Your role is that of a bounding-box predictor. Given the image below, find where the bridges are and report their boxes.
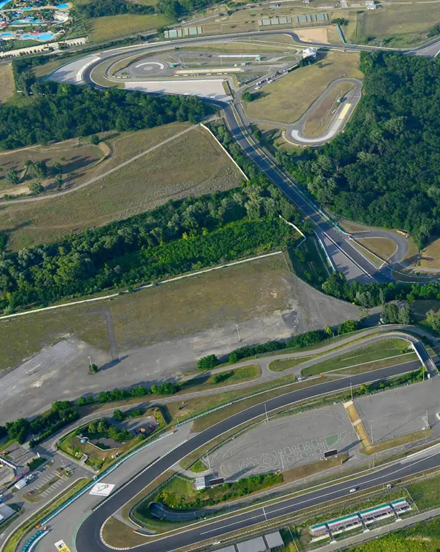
[402,334,440,376]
